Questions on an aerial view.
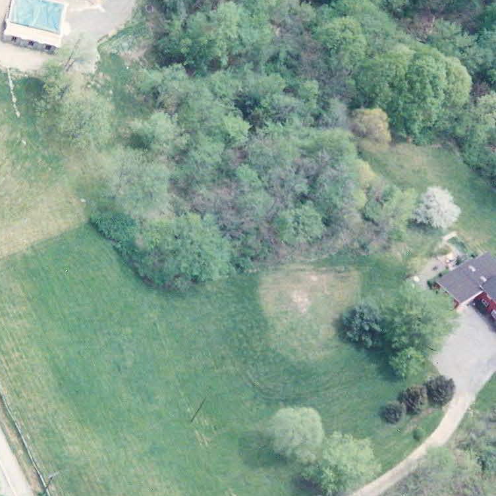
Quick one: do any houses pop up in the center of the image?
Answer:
No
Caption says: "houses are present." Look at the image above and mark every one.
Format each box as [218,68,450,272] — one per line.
[439,247,496,315]
[2,0,70,54]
